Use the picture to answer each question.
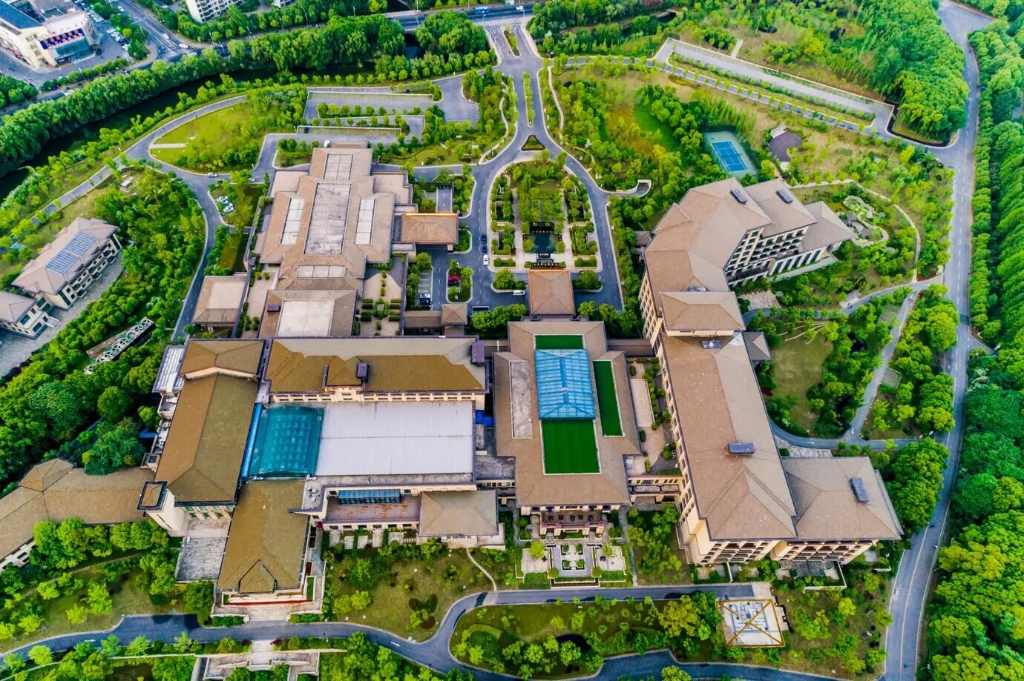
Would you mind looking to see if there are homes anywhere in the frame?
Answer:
Yes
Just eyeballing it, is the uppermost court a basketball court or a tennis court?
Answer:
tennis court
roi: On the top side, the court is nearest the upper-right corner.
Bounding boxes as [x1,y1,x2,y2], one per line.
[705,124,761,178]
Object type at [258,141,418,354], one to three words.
building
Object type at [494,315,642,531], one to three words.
building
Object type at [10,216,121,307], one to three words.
house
